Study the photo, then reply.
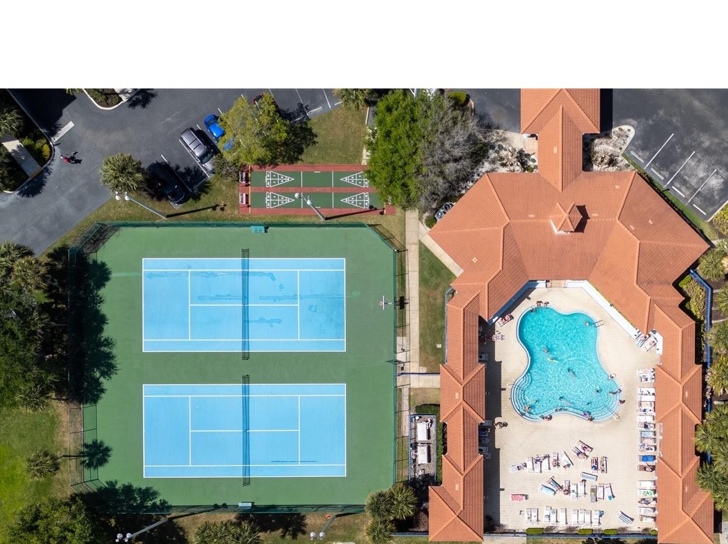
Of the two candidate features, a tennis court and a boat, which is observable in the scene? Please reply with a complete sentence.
The image shows a tennis court.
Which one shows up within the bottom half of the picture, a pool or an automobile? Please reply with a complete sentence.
Looking within the bottom half of the picture, you will find a pool.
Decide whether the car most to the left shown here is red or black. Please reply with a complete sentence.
From above, the car most to the left appears black.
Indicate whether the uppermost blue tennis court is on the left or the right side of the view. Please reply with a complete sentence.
The uppermost blue tennis court is on the left side of the image.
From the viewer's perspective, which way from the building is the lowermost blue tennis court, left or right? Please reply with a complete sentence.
You can see the lowermost blue tennis court positioned to the left of the building.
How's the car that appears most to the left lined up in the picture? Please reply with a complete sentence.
Seen from above, the car that appears most to the left lies at an angle.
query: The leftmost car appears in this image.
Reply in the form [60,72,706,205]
[146,160,185,203]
